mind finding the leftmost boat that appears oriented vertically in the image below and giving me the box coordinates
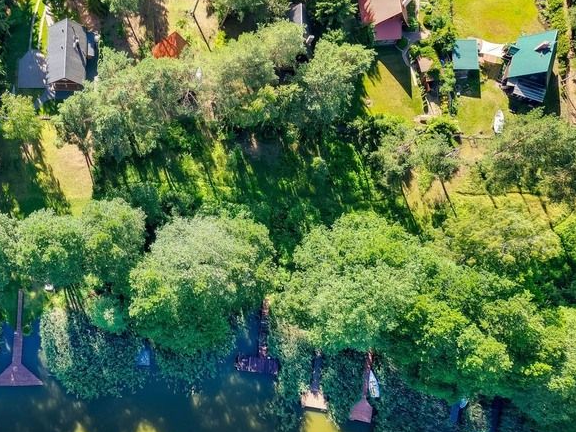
[369,370,381,399]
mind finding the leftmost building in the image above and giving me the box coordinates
[46,17,95,85]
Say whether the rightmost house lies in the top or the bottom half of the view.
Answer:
top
